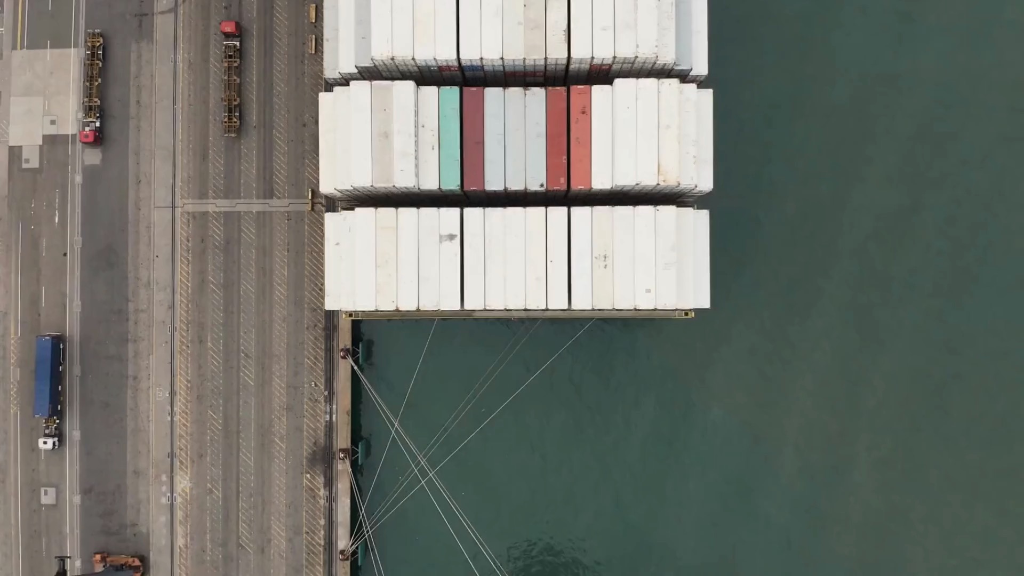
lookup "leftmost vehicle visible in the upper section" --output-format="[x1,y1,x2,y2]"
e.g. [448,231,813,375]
[78,31,102,144]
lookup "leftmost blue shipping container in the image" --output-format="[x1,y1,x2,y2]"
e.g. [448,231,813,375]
[34,335,60,417]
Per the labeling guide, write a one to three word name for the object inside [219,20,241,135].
truck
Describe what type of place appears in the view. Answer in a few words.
port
